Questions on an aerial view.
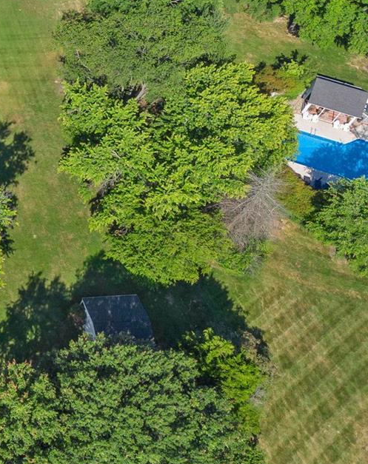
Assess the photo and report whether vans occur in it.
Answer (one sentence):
No, there's no van here.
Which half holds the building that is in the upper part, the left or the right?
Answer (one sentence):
The building that is in the upper part is on the right side of the image.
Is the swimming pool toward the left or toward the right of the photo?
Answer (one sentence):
It is on the right.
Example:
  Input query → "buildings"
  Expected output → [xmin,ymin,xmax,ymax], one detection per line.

[73,295,155,347]
[296,72,368,145]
